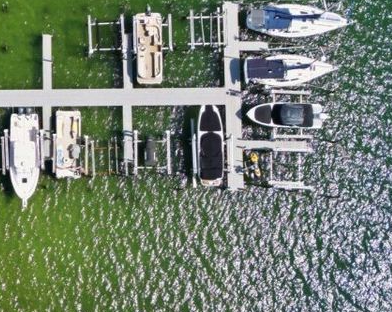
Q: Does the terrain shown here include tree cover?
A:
No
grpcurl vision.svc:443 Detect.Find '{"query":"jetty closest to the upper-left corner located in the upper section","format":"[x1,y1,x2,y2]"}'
[40,33,53,89]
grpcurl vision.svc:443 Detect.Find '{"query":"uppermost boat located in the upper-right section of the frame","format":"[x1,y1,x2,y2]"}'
[243,0,361,38]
